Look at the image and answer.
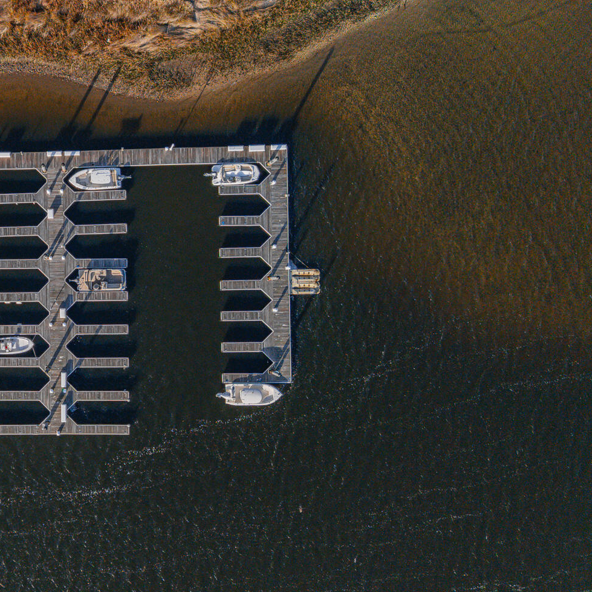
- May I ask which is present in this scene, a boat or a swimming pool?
boat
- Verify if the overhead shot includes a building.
No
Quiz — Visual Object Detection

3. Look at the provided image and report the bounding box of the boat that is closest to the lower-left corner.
[0,337,34,354]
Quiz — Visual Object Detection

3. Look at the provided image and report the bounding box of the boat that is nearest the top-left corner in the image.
[69,169,133,191]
